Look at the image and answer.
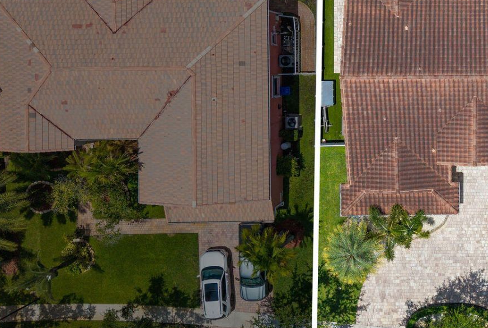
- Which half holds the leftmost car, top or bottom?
bottom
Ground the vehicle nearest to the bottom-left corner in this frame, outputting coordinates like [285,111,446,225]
[199,245,238,319]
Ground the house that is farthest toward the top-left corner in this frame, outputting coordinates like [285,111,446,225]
[0,0,287,225]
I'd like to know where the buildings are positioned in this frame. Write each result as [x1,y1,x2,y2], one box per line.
[0,0,287,225]
[339,0,488,218]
